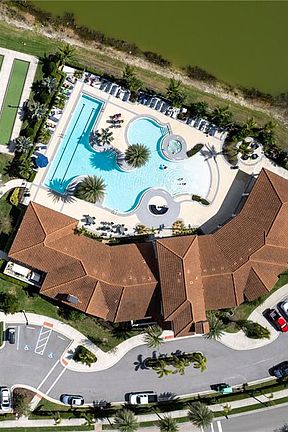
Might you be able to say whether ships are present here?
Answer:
No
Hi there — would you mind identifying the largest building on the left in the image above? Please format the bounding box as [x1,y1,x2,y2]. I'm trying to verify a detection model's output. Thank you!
[8,201,158,331]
